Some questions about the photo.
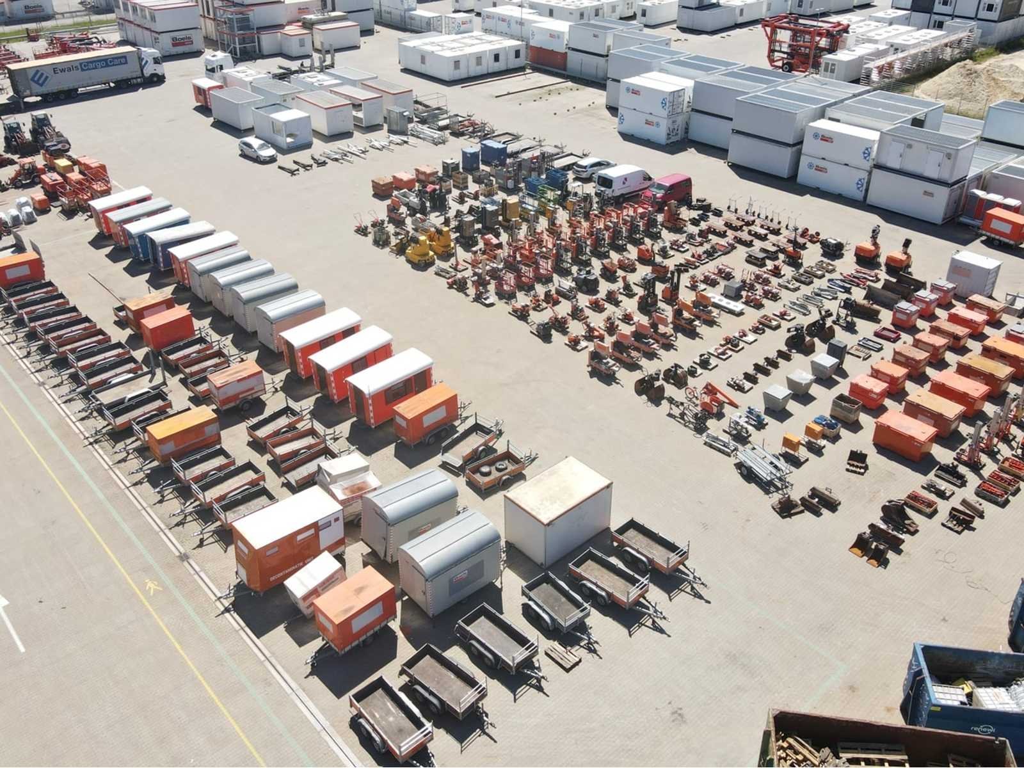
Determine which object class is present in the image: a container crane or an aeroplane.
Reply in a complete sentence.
The image shows a container crane.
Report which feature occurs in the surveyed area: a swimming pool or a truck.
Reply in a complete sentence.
The image shows a truck.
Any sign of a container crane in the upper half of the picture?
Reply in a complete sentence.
Yes, the scene does show a container crane in the upper half of the picture.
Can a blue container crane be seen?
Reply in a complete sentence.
No, I can't see a single blue container crane in this photo.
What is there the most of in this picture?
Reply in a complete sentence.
What you mostly see from above here is paved ground.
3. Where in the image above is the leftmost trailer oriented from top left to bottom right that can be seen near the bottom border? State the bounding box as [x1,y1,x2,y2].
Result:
[348,677,445,768]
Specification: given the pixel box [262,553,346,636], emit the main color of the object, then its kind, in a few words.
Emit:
white trailer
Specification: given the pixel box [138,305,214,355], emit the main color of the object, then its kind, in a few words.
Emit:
red trailer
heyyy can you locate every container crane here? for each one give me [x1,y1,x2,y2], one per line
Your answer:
[767,13,855,74]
